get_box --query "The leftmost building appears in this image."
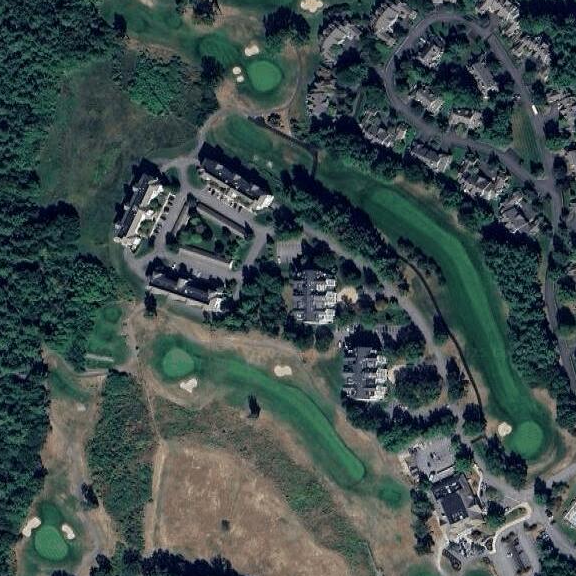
[116,177,164,254]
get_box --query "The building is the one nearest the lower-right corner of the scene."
[430,467,486,530]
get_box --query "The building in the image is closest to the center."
[293,271,337,325]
